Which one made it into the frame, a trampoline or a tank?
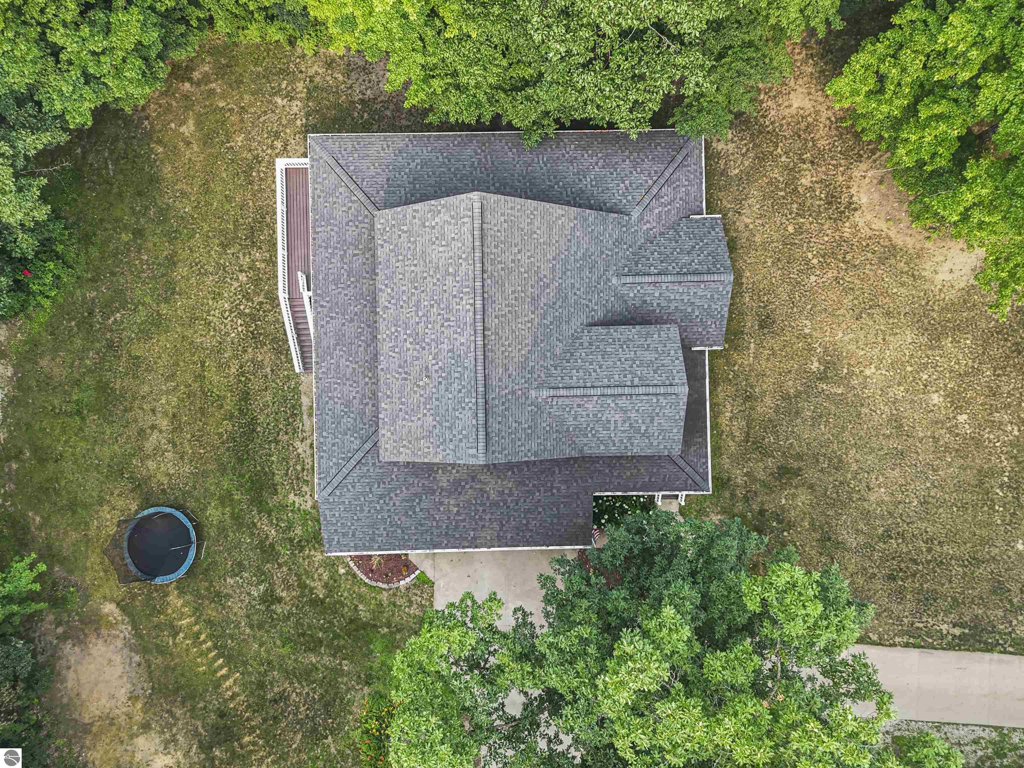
trampoline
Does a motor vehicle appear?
No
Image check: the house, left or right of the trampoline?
on its right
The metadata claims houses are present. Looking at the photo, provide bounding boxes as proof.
[308,125,734,556]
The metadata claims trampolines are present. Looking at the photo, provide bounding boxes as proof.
[99,506,205,591]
